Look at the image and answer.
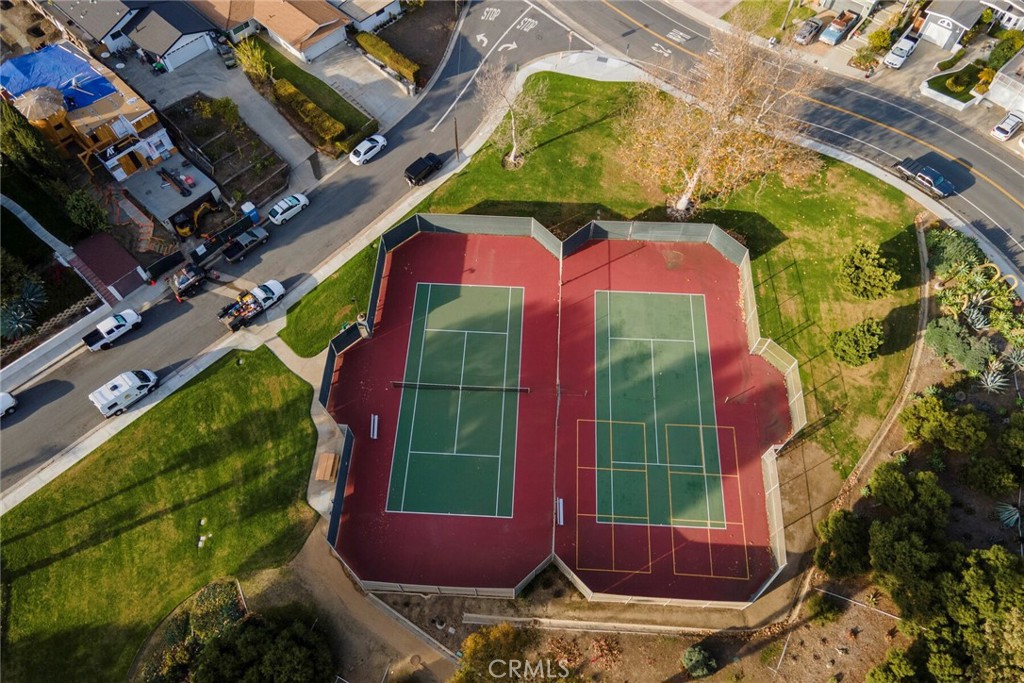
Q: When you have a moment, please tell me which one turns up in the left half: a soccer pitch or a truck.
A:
truck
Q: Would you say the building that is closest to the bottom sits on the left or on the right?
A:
left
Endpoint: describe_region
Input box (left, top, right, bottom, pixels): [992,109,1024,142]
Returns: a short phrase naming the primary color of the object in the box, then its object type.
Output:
white car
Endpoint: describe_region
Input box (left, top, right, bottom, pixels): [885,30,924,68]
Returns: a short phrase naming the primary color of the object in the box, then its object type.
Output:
white truck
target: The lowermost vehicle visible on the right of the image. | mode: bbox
[898,155,960,199]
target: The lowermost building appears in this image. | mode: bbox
[74,233,151,299]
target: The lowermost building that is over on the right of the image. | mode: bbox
[990,47,1024,111]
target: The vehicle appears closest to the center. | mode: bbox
[405,155,441,185]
